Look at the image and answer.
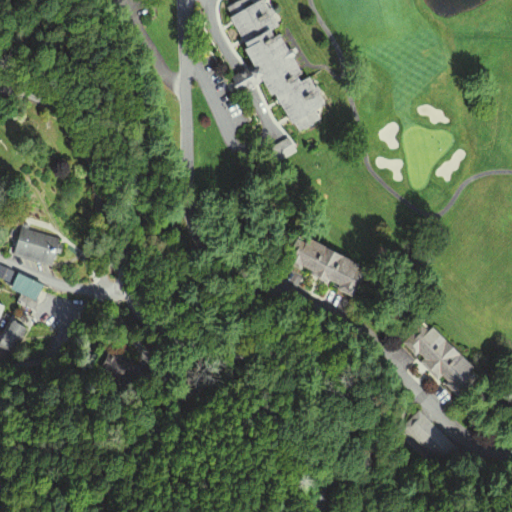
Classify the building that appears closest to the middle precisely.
residential house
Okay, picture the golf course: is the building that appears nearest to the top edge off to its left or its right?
to the left of it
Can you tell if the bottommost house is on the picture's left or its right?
right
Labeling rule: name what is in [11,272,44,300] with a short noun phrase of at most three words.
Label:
building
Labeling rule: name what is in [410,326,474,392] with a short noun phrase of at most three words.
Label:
house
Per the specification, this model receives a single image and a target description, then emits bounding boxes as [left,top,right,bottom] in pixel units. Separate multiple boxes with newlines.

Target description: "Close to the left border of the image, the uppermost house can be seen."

[13,226,62,262]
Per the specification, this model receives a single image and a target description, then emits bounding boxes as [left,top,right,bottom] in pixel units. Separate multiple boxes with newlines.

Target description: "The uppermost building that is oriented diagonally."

[222,0,326,132]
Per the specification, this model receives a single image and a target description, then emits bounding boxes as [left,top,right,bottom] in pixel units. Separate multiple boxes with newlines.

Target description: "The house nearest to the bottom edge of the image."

[405,412,461,464]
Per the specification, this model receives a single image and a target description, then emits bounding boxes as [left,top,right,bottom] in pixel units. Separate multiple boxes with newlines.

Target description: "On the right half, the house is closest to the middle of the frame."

[294,240,364,298]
